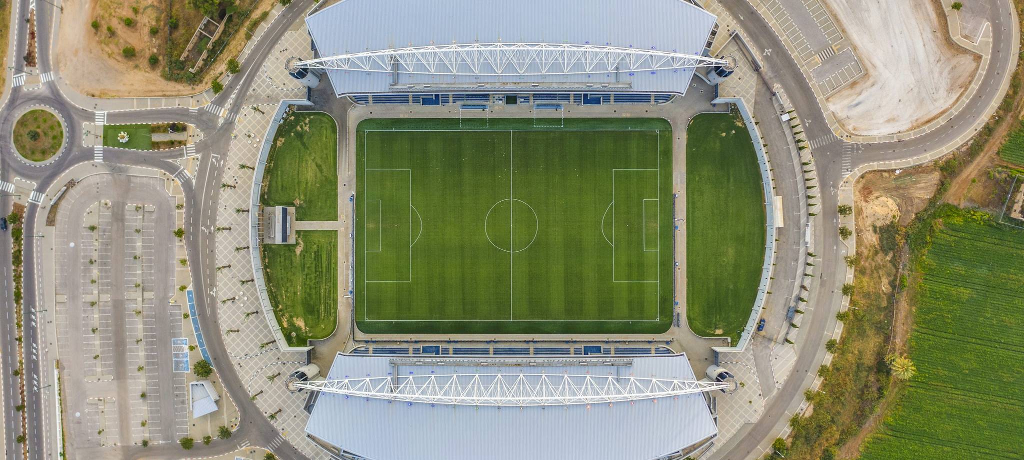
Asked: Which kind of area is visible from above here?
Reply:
sports ground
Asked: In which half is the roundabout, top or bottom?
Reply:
top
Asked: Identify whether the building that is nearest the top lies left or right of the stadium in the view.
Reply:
left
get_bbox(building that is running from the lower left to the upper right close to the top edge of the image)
[180,14,231,75]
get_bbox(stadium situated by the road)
[249,0,784,460]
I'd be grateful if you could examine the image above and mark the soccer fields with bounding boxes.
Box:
[356,109,673,334]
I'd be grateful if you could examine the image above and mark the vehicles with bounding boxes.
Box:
[757,317,766,333]
[0,217,6,230]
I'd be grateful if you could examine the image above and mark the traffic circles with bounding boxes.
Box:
[7,104,69,166]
